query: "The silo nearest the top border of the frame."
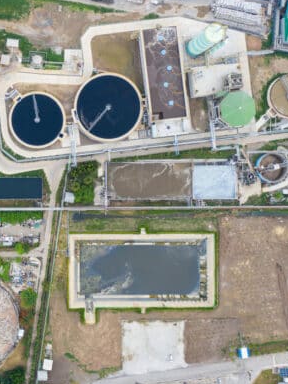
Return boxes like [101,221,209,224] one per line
[185,21,231,57]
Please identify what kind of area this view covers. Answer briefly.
industrial area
